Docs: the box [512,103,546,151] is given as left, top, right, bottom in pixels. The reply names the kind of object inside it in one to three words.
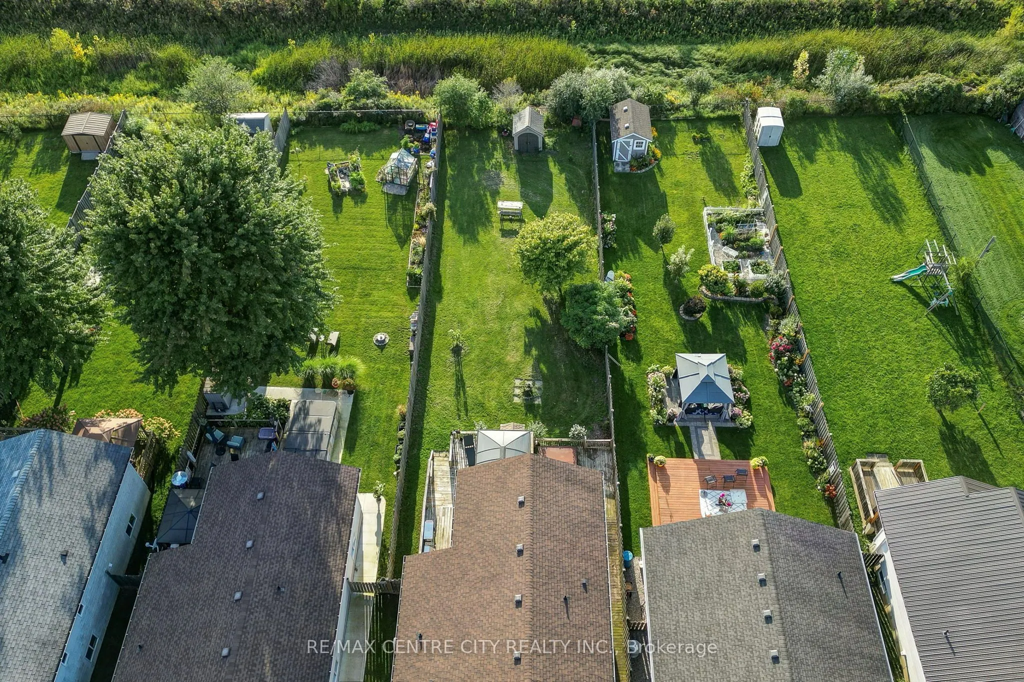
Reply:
shed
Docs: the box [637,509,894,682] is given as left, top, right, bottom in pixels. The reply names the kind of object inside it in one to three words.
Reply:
house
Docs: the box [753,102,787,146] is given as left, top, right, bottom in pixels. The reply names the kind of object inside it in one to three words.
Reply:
shed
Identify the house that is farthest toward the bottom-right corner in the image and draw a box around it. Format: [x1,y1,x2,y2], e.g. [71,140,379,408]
[868,476,1024,682]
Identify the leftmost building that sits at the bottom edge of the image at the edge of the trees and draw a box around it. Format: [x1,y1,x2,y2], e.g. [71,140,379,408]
[0,429,151,682]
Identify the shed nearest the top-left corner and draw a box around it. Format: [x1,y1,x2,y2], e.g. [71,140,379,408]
[58,98,118,152]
